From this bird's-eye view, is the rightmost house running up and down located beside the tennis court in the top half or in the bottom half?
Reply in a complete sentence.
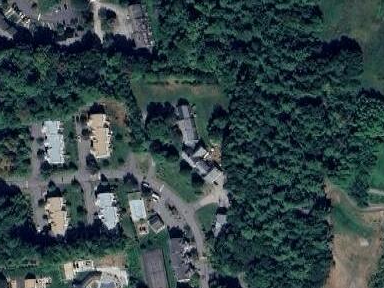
Seen from above, the rightmost house running up and down located beside the tennis court lies in the bottom half of the view.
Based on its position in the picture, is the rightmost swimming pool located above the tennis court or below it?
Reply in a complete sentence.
In the image, the rightmost swimming pool appears above the tennis court.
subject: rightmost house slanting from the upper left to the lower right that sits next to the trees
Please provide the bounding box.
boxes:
[184,145,222,187]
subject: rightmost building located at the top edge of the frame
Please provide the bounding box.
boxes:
[126,5,152,49]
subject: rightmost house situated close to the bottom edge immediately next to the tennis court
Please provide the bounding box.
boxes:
[166,237,189,284]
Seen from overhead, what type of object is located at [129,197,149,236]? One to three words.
swimming pool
